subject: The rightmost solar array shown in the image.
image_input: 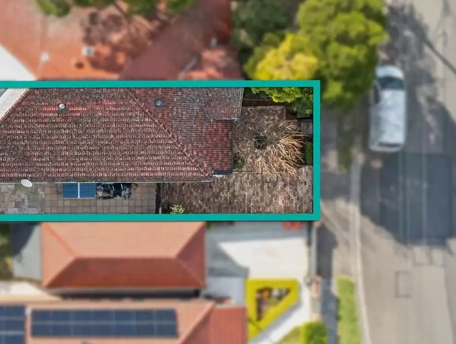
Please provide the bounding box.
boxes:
[31,311,177,338]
